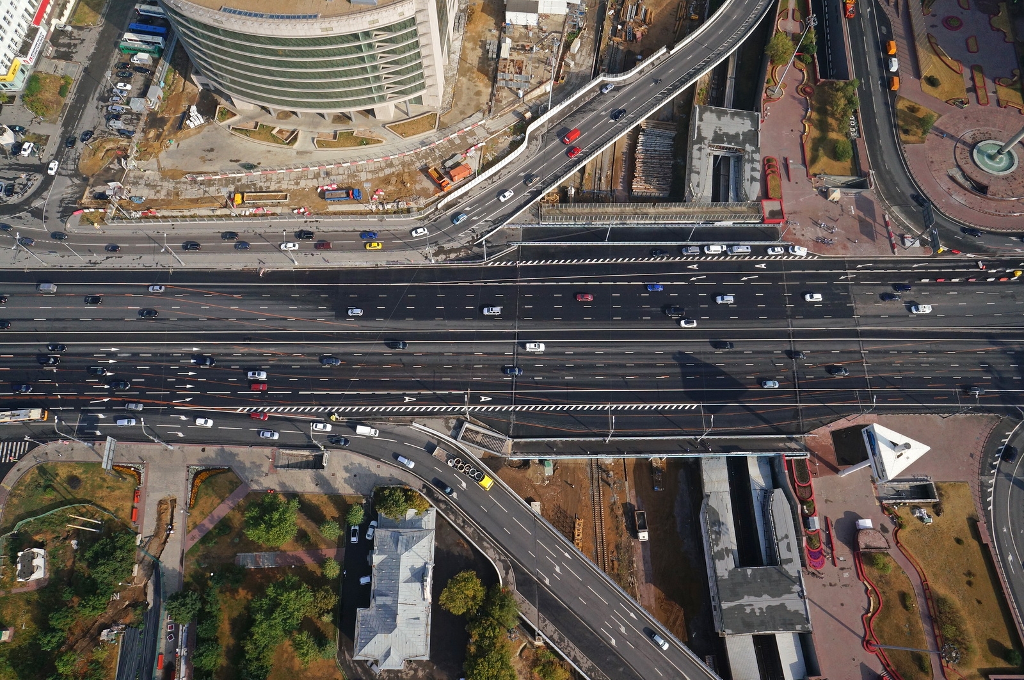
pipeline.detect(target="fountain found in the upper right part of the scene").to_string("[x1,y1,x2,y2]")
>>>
[971,127,1024,176]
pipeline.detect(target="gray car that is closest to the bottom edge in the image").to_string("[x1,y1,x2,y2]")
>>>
[365,660,384,677]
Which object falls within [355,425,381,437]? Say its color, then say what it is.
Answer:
white vehicle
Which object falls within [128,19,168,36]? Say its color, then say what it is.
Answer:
blue vehicle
